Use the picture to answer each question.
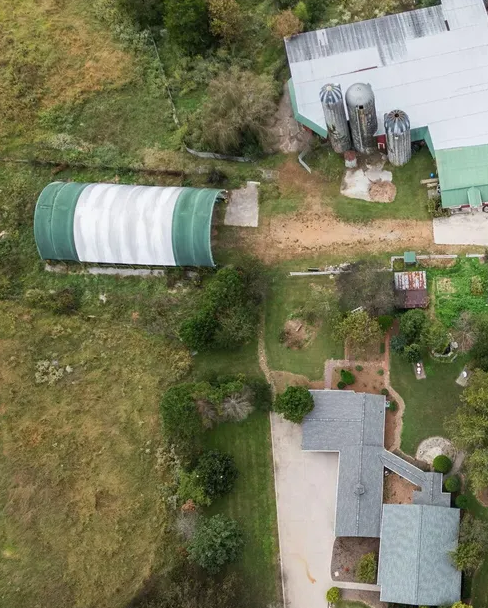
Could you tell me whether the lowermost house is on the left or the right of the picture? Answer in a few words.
right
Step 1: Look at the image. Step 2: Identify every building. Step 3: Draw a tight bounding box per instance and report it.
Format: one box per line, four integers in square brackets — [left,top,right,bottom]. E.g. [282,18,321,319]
[285,0,488,217]
[33,181,228,270]
[393,271,428,312]
[403,247,415,264]
[300,390,462,605]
